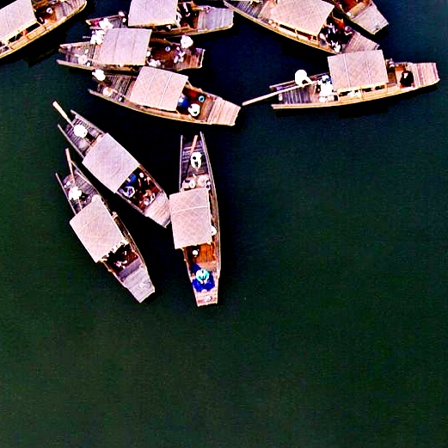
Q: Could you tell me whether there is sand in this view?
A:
No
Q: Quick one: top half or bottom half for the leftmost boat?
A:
top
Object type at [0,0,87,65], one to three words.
boat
